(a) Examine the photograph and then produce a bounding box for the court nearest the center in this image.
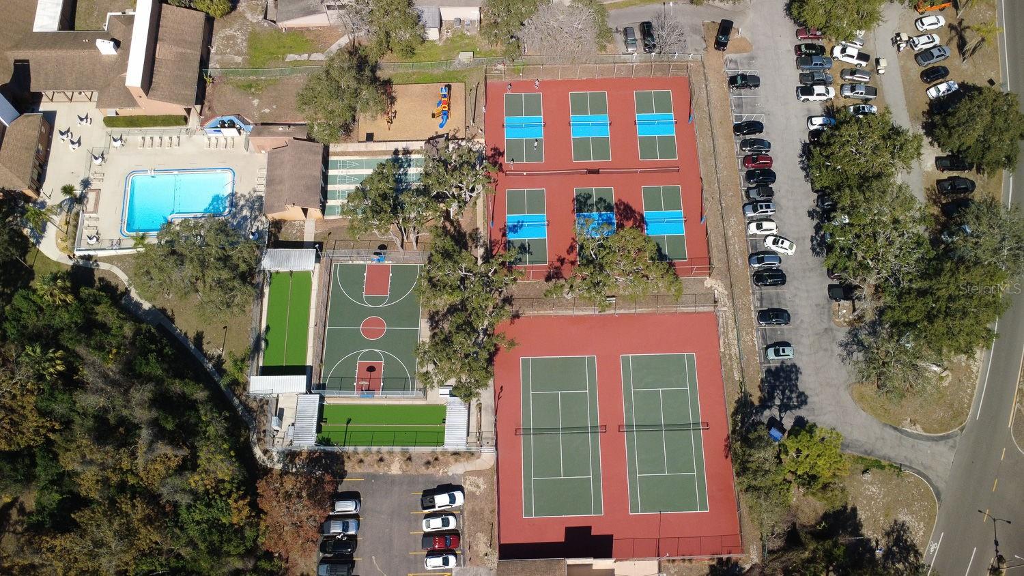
[506,188,549,266]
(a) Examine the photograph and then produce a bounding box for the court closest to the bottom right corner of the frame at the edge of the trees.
[620,353,709,514]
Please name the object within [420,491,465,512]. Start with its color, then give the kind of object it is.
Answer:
white truck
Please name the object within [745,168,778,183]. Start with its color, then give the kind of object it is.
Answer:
black car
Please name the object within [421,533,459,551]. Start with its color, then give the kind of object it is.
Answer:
red vehicle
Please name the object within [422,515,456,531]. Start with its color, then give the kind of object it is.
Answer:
white car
